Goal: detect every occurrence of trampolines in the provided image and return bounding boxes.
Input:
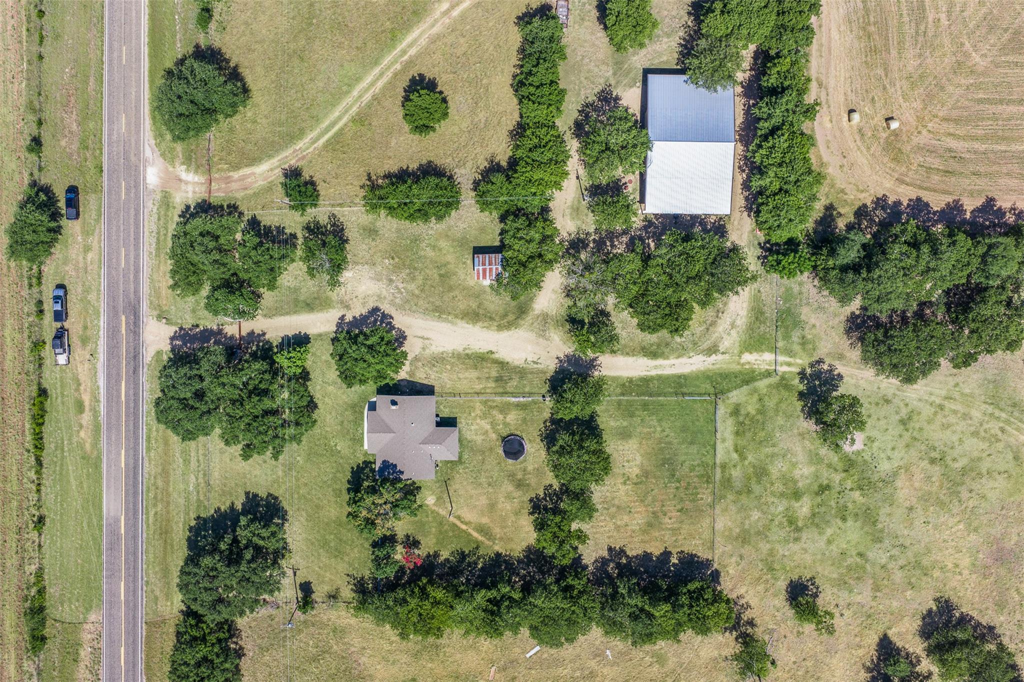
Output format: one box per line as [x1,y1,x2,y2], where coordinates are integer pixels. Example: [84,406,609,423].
[502,435,526,459]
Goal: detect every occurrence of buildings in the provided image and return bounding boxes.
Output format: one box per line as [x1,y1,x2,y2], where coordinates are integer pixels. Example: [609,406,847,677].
[475,254,509,281]
[365,395,458,482]
[641,74,735,218]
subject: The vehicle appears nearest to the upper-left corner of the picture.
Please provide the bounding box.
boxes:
[63,188,80,223]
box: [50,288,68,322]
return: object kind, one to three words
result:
vehicle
